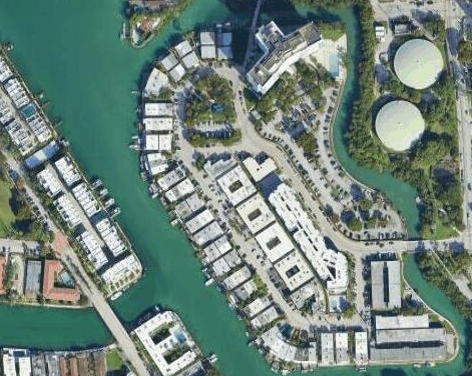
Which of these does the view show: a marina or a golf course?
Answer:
marina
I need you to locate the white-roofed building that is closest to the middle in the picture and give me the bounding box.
[217,166,257,206]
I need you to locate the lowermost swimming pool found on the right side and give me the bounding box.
[279,320,297,339]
